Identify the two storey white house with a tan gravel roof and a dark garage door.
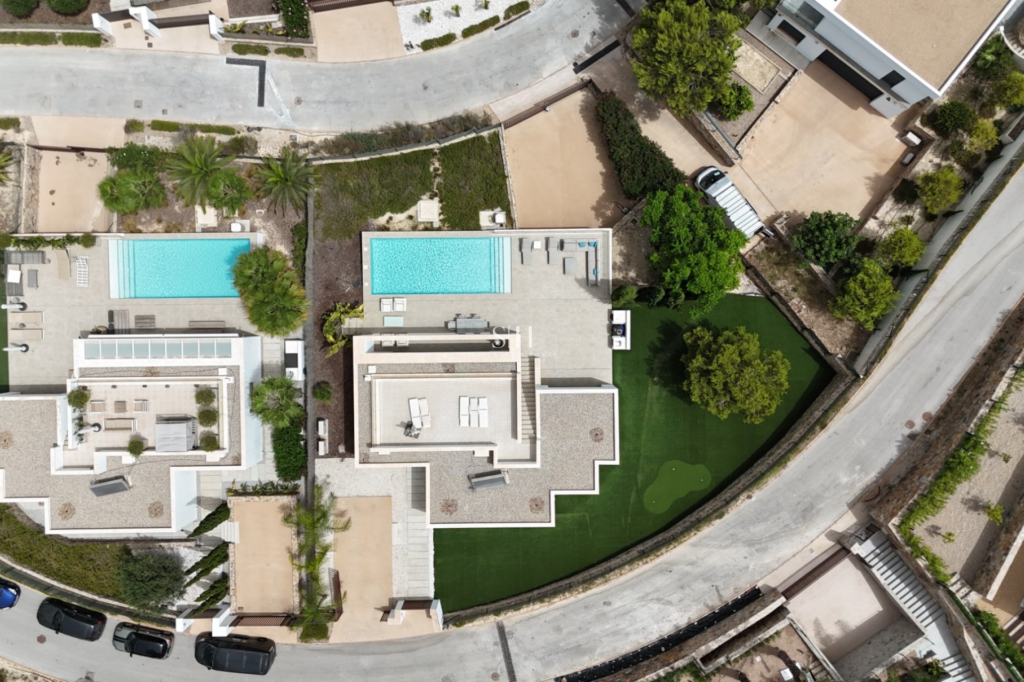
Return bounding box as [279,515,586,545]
[752,0,1006,128]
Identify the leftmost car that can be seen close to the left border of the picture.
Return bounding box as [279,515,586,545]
[0,576,26,608]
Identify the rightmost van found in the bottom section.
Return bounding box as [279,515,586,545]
[195,630,278,676]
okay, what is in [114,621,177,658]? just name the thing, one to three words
car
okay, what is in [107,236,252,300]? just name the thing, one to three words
swimming pool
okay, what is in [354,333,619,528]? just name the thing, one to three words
house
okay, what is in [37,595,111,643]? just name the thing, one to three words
car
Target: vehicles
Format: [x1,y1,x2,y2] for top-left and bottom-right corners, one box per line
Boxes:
[195,630,278,676]
[697,168,778,245]
[37,595,111,643]
[114,621,177,658]
[0,576,26,608]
